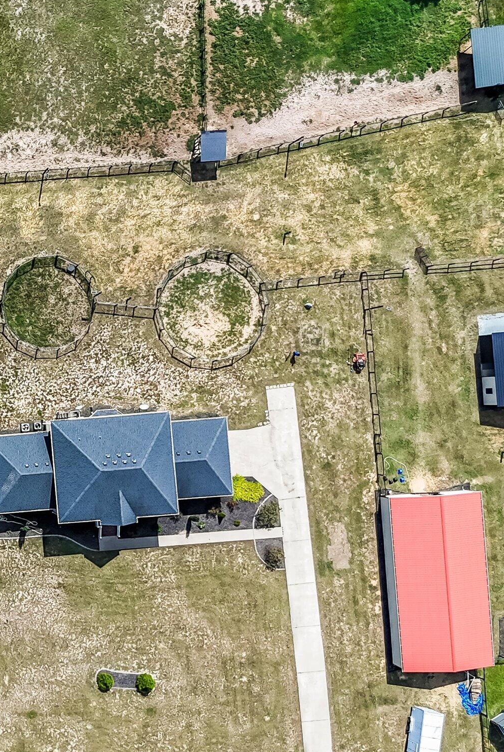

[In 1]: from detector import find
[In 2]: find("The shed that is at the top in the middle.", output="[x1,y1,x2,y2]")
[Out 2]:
[194,129,226,166]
